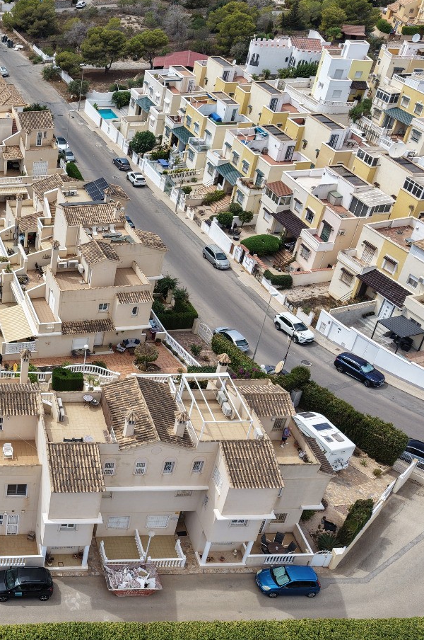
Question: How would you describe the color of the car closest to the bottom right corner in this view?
blue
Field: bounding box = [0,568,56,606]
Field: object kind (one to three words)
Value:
car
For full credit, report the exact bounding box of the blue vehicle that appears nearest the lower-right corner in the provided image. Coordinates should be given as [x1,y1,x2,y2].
[258,567,328,601]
